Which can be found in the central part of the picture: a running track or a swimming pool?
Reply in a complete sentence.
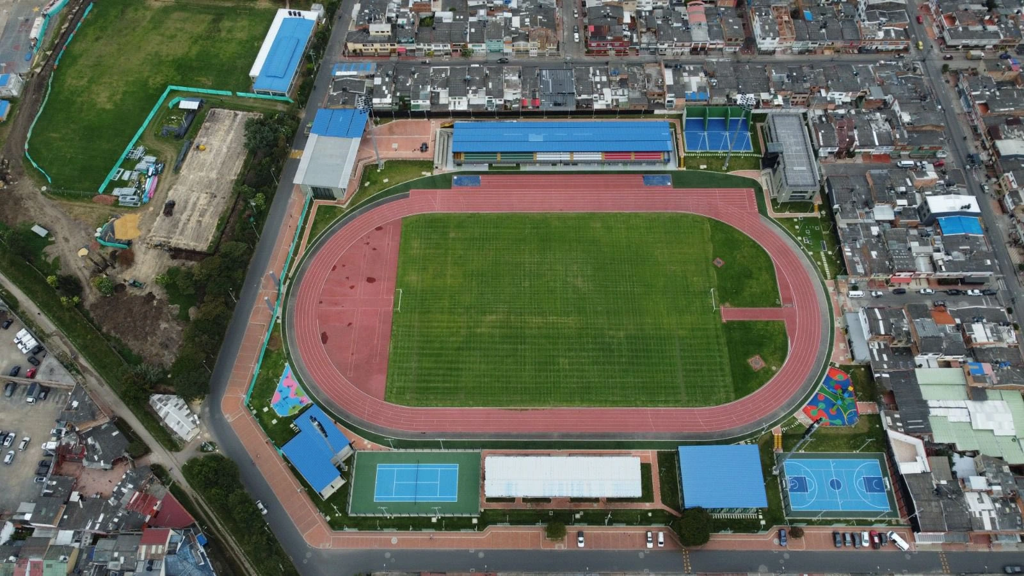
The feature located in the central part of the picture is a running track.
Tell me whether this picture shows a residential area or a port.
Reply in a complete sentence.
The picture captures a residential area.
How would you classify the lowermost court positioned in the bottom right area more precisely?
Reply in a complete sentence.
In the photo, the lowermost court positioned in the bottom right area shows up as a basketball court.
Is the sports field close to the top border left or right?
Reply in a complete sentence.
The sports field close to the top border is on the left side of the image.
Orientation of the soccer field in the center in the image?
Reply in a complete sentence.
In this picture, the soccer field in the center is oriented from side to side.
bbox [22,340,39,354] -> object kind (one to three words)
vehicle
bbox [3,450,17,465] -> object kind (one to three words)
car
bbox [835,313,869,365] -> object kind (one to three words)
building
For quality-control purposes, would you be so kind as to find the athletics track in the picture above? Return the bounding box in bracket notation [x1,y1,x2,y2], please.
[280,169,835,450]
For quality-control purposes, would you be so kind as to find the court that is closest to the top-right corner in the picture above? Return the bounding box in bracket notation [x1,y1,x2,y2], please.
[685,106,756,151]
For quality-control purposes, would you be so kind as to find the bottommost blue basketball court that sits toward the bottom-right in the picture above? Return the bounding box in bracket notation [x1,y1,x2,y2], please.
[772,452,903,519]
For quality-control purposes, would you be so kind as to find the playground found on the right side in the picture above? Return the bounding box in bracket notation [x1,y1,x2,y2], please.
[803,366,860,427]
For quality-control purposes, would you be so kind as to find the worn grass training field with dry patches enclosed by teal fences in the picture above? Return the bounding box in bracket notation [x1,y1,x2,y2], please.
[26,0,282,194]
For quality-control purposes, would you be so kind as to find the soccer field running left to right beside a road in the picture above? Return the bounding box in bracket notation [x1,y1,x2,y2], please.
[386,213,798,407]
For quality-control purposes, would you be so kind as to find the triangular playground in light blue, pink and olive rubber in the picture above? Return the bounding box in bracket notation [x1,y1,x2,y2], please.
[272,363,313,417]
